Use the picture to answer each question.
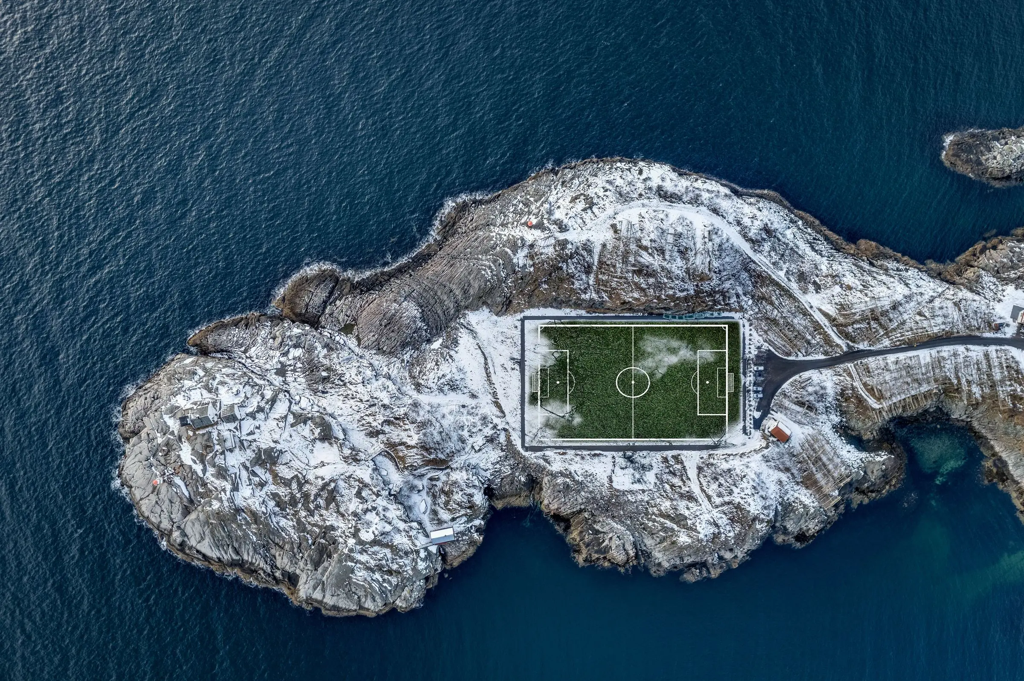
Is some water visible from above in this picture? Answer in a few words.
Yes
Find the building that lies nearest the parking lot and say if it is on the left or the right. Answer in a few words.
right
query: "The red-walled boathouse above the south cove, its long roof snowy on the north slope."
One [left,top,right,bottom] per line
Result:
[429,526,456,544]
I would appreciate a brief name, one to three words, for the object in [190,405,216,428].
building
